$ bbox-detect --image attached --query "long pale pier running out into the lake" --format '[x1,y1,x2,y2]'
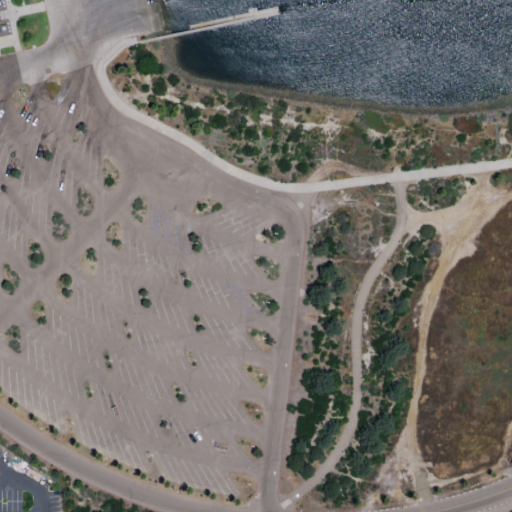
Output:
[130,6,280,45]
